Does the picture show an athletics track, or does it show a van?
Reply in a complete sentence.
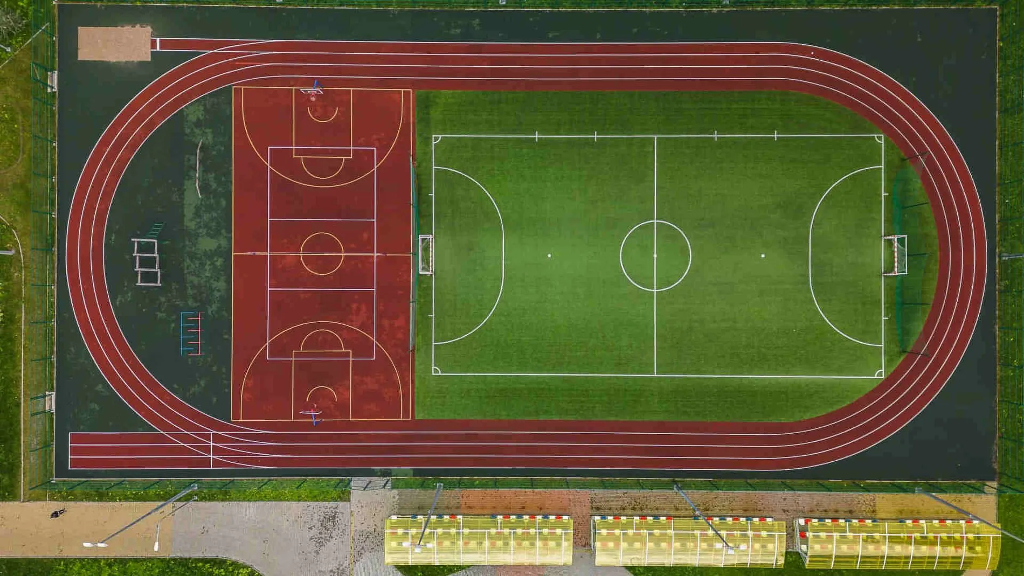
The image shows an athletics track.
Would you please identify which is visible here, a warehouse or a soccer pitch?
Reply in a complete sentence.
It is a soccer pitch that can be seen here.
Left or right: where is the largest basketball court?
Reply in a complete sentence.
You can find the largest basketball court on the left side of the picture.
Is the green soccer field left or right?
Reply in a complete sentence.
The green soccer field is on the right side of the image.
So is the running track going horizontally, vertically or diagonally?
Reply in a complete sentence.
The running track has been laid out horizontally relative to the frame.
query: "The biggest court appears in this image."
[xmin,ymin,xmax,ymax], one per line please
[232,86,416,421]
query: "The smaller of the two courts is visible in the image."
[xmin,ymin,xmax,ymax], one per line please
[267,147,376,359]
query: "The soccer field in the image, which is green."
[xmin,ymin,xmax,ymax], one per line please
[416,90,938,422]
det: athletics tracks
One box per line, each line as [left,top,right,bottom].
[66,40,987,470]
